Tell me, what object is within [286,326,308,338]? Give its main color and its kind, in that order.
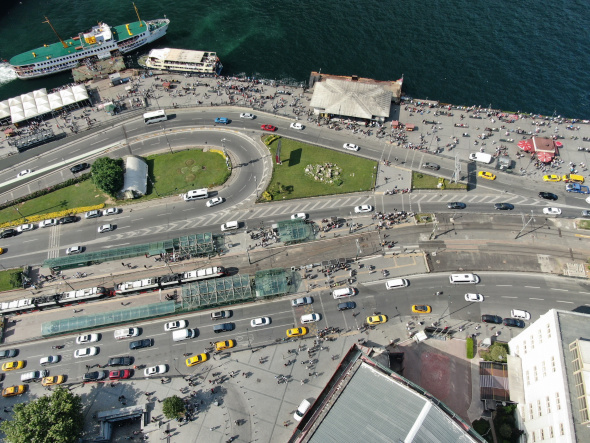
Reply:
yellow vehicle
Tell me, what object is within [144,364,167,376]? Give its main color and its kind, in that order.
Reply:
white vehicle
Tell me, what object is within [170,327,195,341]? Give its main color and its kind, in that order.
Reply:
white vehicle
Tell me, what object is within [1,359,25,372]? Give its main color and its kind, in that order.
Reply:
yellow vehicle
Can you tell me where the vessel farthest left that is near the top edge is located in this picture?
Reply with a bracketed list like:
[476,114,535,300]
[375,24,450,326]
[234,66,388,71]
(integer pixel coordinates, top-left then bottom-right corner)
[0,3,173,76]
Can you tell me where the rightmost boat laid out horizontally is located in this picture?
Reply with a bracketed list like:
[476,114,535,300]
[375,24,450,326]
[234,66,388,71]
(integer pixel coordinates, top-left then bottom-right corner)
[134,47,222,75]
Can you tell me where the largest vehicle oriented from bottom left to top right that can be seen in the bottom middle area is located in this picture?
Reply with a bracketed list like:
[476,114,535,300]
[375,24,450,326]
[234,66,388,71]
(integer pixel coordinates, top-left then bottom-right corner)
[288,393,311,423]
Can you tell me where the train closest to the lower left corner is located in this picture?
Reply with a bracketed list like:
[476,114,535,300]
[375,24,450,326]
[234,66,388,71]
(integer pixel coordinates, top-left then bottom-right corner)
[0,285,110,317]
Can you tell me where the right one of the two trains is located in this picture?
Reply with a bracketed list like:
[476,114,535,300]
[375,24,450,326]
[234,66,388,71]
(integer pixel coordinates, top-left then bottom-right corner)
[109,266,224,297]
